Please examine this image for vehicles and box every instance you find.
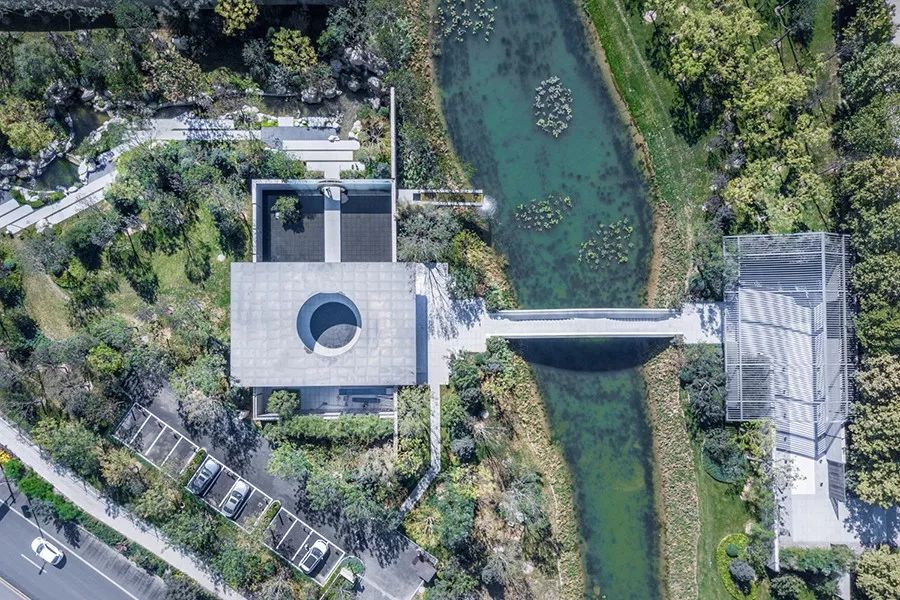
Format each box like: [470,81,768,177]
[298,534,333,577]
[189,455,223,497]
[28,535,67,569]
[221,477,255,520]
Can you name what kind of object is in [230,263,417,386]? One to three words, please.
building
